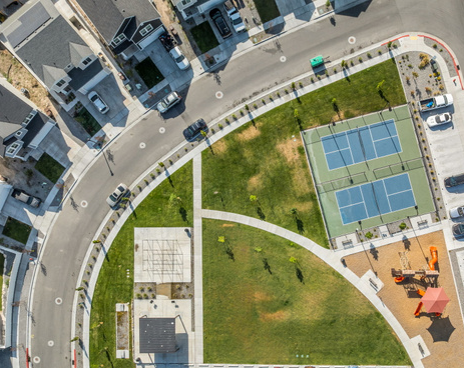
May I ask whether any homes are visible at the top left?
Yes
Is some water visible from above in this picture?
No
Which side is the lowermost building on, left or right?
left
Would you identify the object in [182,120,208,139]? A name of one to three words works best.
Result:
car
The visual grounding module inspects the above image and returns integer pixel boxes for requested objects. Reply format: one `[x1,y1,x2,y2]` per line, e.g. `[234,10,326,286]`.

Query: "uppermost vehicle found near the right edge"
[418,94,453,112]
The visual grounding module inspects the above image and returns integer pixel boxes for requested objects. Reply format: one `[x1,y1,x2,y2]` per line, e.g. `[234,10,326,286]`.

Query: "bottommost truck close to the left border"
[9,186,43,207]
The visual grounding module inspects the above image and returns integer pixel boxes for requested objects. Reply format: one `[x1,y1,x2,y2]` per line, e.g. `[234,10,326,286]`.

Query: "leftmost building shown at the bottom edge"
[138,317,177,353]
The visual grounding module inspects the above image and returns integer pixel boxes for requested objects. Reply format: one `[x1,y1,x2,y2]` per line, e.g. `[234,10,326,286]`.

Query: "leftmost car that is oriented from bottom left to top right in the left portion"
[106,182,129,208]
